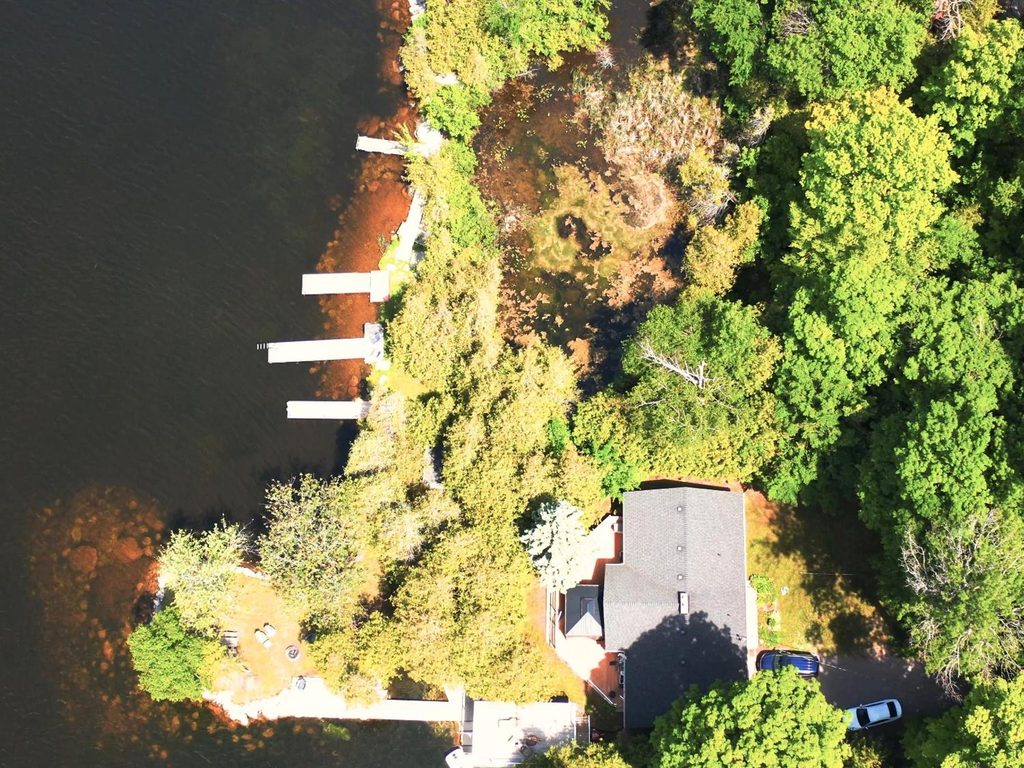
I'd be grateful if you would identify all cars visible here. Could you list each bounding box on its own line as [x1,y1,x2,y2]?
[840,695,907,734]
[755,648,821,678]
